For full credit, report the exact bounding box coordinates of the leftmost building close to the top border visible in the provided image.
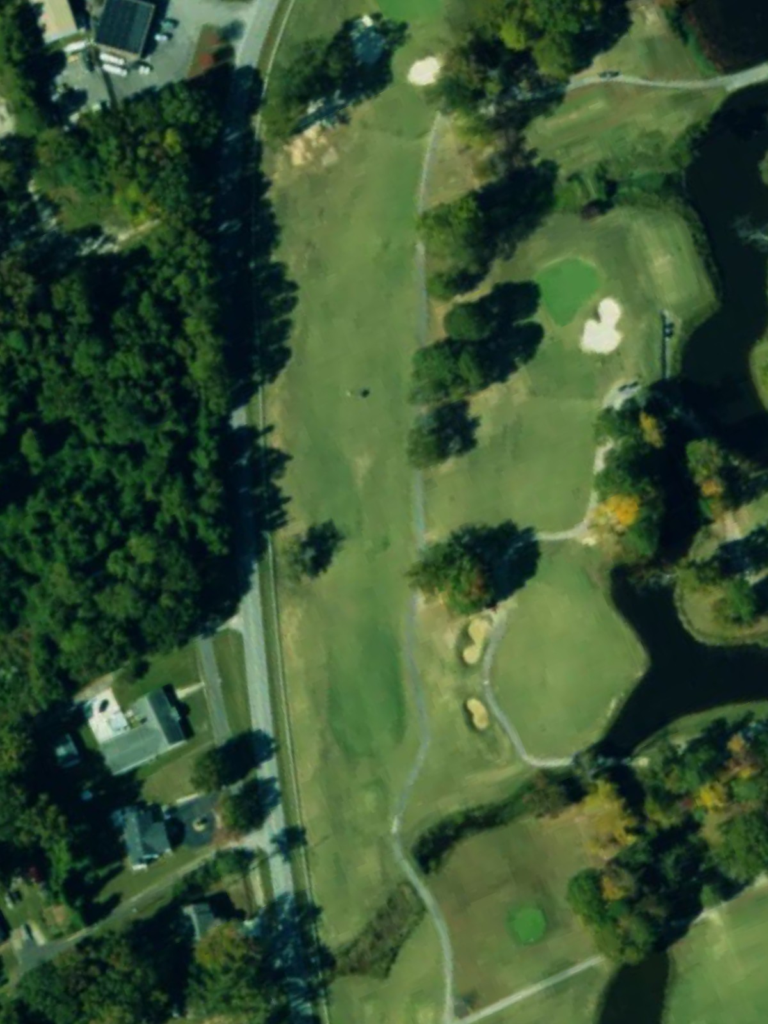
[37,0,79,42]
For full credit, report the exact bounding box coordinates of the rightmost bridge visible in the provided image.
[721,64,768,90]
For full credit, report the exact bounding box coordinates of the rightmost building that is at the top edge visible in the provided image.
[93,0,155,58]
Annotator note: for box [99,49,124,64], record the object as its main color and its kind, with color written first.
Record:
white vehicle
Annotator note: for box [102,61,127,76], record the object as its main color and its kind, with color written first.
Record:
white vehicle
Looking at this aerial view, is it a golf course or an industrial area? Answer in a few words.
golf course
